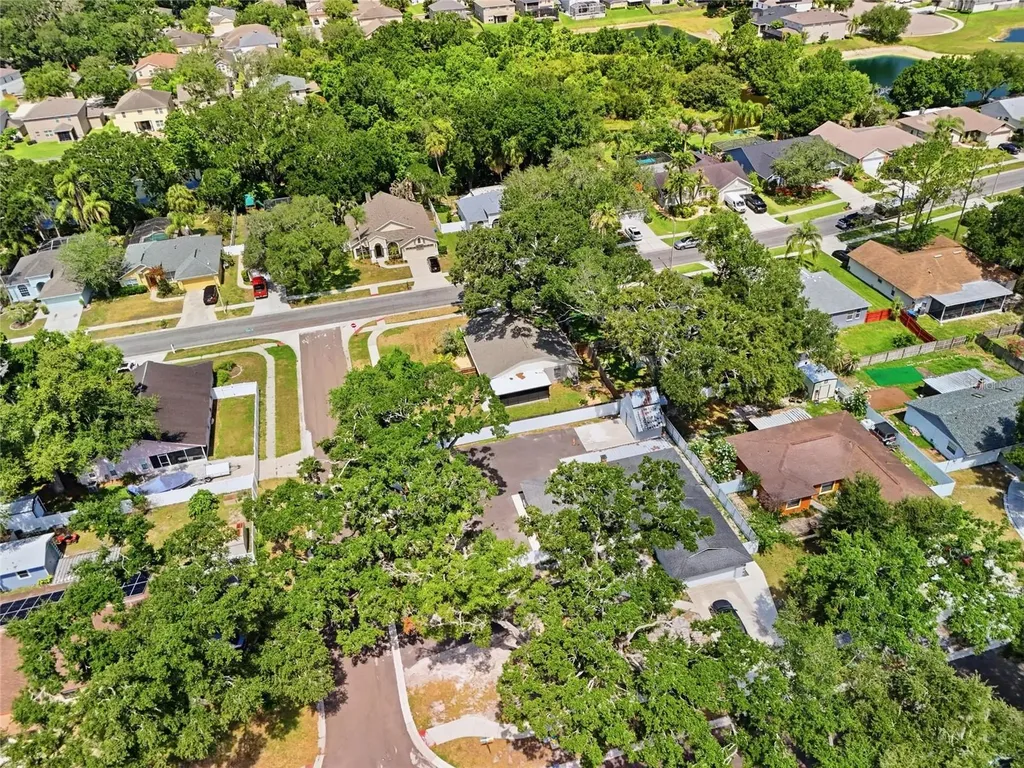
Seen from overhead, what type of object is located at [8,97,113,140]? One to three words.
house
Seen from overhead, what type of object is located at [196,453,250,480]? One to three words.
trailer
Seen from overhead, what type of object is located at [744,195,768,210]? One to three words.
vehicle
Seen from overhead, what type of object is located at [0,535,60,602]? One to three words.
shed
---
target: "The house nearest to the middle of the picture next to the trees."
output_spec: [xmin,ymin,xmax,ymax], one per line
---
[470,302,583,415]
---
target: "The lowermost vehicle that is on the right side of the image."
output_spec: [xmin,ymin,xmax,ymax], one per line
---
[709,590,754,635]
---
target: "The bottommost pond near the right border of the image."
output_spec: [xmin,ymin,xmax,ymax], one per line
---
[846,55,1007,111]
